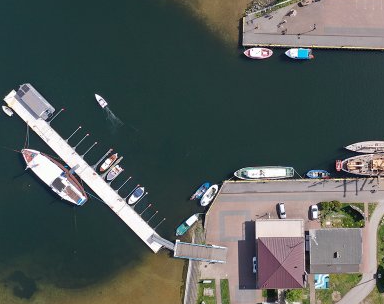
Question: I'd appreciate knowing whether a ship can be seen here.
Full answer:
Yes, this view includes a ship.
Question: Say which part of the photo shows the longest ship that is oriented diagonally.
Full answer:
You can find the longest ship that is oriented diagonally in the left area of the picture.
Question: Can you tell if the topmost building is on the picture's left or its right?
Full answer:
It is on the left.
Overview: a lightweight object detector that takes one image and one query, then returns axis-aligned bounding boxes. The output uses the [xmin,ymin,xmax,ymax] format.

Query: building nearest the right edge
[309,228,362,274]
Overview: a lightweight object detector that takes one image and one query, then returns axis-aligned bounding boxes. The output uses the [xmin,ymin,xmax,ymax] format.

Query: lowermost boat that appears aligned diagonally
[175,211,206,236]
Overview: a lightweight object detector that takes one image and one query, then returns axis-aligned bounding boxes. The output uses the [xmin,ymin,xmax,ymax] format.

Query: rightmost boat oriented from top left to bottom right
[93,94,108,109]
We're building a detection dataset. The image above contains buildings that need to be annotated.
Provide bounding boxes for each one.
[256,235,308,289]
[309,228,362,274]
[12,85,53,121]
